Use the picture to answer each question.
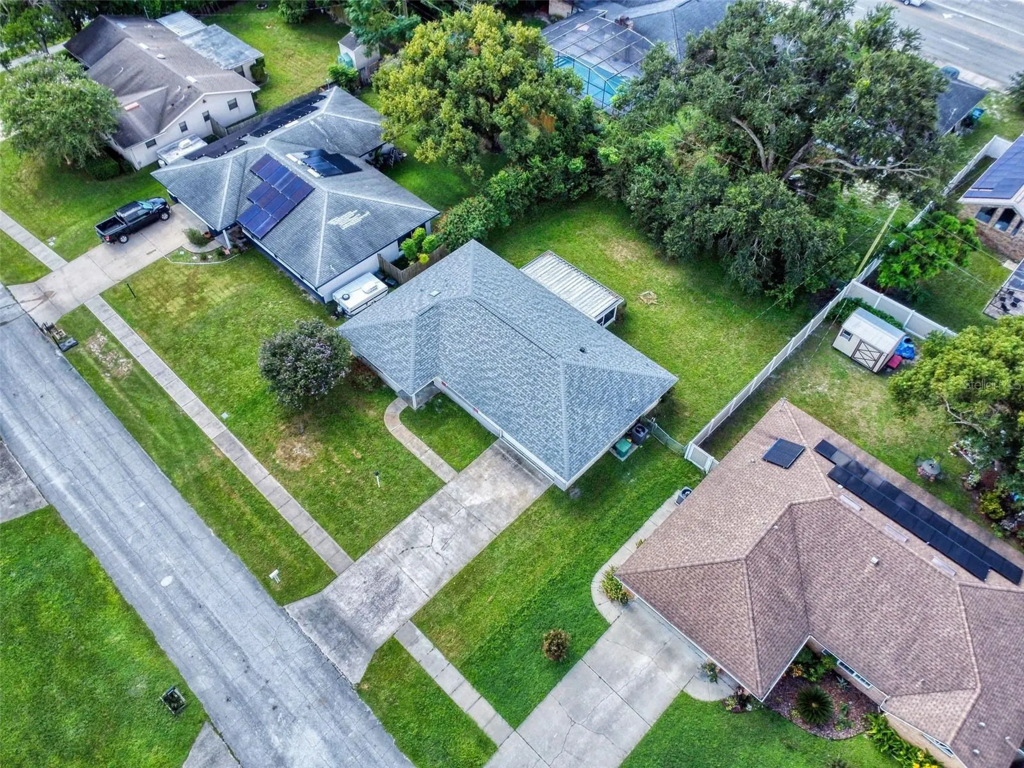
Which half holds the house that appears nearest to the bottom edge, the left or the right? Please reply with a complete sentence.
The house that appears nearest to the bottom edge sits on the right side.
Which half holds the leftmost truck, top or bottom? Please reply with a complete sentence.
Seen from above, the leftmost truck lies in the top half of the view.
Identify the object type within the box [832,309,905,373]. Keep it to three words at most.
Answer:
shed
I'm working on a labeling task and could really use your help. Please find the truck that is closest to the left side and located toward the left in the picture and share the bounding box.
[90,195,174,247]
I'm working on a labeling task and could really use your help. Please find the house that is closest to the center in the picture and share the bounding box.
[338,239,677,492]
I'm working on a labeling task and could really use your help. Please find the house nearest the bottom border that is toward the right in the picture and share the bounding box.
[615,397,1024,768]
